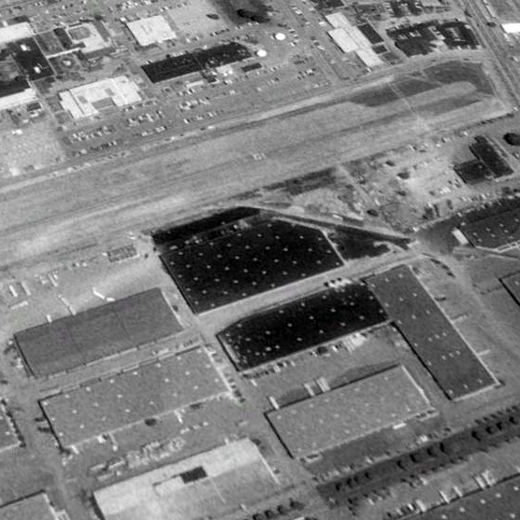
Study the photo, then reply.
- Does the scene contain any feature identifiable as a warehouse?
Yes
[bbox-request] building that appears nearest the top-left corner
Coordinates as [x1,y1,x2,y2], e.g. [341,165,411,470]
[0,21,35,45]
